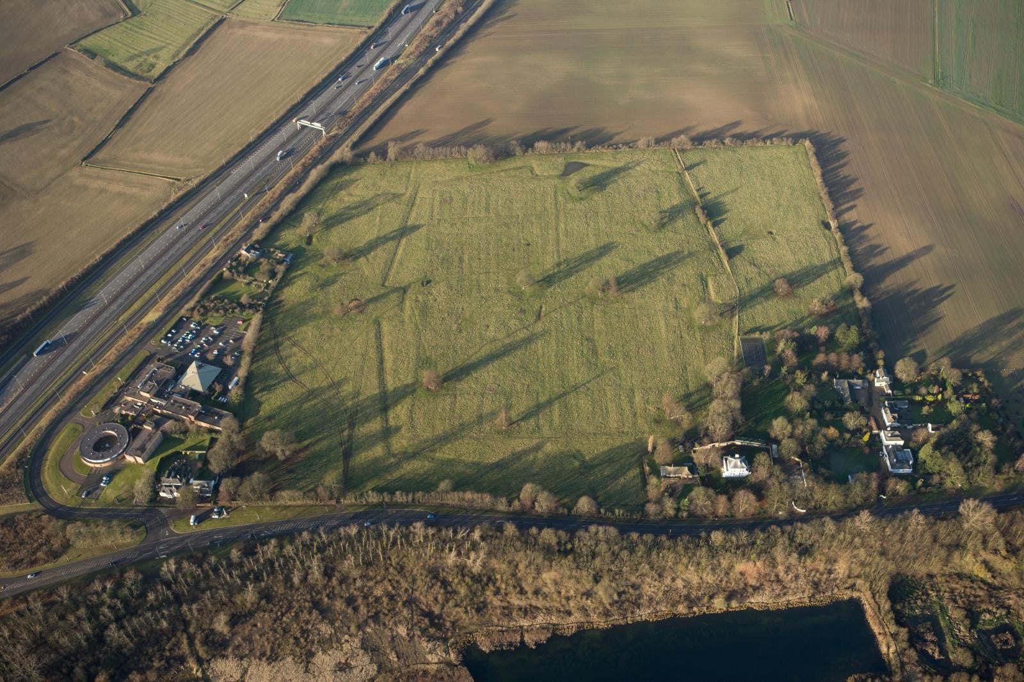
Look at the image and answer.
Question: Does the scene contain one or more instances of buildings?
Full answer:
Yes, there is a building in the image.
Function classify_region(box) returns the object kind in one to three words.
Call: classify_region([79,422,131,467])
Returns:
building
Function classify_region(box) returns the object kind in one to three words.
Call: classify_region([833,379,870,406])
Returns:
barn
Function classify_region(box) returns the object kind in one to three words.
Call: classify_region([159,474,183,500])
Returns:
house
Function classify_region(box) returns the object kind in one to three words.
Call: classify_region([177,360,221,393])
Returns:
building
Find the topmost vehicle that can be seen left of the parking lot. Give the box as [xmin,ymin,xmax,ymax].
[33,338,52,357]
